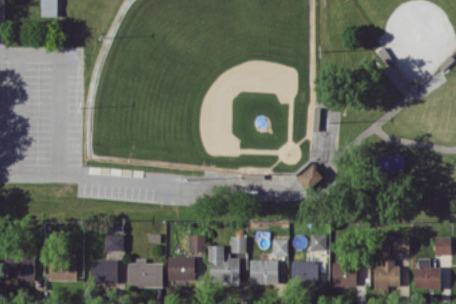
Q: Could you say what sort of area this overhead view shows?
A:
sports ground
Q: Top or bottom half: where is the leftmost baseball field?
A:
top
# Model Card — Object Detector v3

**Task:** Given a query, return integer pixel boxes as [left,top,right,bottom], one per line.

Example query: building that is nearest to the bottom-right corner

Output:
[415,268,441,291]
